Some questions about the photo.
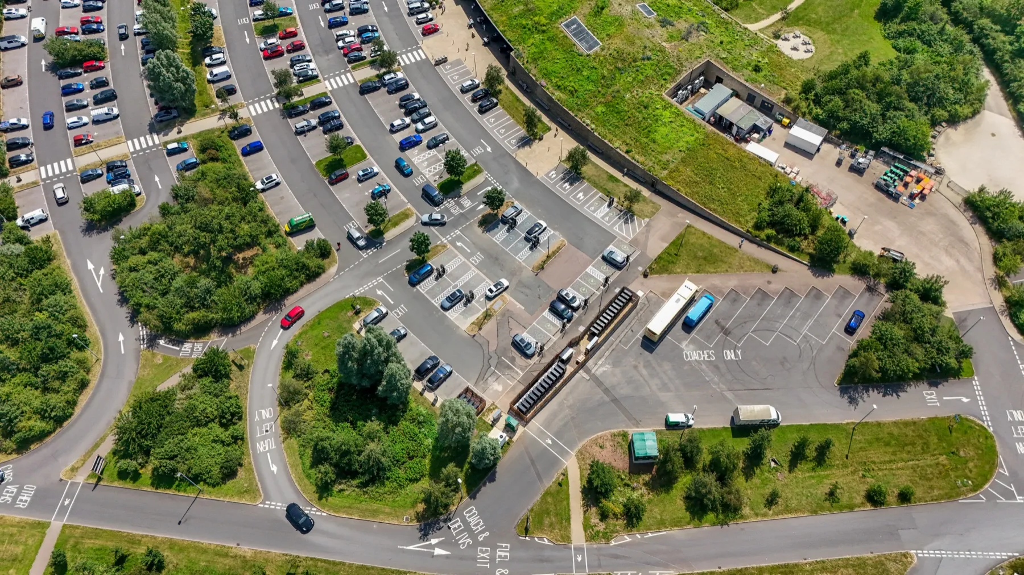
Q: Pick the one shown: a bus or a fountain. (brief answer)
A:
bus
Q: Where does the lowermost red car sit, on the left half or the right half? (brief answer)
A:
left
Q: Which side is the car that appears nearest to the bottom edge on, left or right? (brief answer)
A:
left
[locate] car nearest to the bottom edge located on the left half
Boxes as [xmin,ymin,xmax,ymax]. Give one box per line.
[286,502,314,534]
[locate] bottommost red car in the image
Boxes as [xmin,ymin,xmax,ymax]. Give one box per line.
[280,305,306,328]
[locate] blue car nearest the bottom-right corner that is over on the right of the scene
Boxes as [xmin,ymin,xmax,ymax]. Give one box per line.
[844,310,865,334]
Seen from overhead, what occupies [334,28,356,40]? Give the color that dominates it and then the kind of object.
white vehicle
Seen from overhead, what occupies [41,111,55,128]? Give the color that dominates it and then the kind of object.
blue car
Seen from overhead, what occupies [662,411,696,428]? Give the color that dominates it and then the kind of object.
white vehicle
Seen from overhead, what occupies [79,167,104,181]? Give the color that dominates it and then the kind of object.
blue car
